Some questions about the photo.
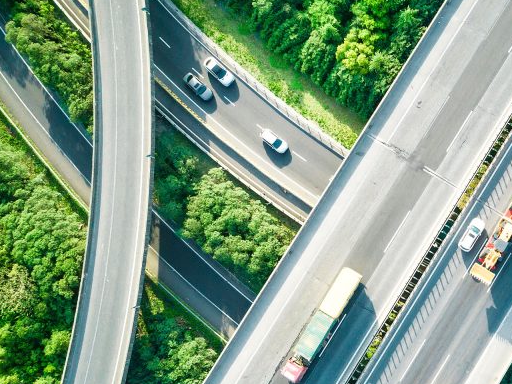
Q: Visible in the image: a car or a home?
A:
car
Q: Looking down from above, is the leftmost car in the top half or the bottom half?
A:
top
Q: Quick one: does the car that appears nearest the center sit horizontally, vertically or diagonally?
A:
diagonally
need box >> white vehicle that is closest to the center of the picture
[259,127,290,155]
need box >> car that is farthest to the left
[182,72,215,102]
